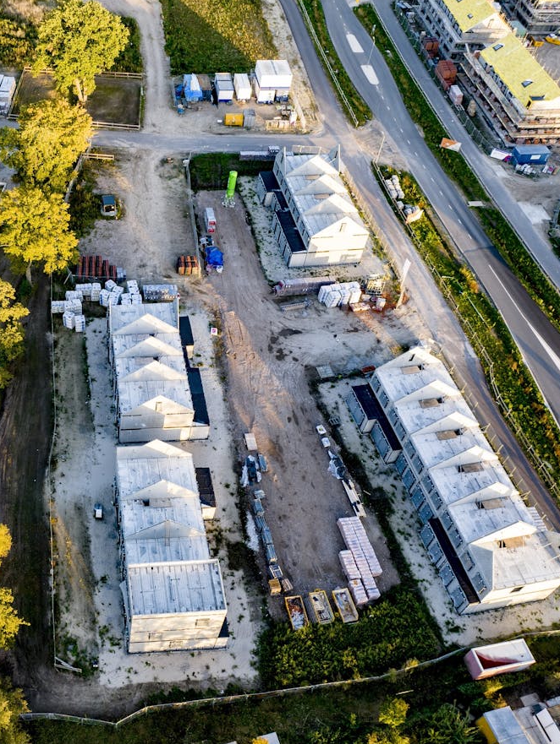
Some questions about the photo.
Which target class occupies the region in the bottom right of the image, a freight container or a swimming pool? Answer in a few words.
freight container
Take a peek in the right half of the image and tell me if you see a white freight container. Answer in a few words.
Yes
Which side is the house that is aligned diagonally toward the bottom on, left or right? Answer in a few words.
right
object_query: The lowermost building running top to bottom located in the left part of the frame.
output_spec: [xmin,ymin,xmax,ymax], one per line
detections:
[109,435,231,652]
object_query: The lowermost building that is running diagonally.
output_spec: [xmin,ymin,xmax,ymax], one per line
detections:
[342,346,560,614]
